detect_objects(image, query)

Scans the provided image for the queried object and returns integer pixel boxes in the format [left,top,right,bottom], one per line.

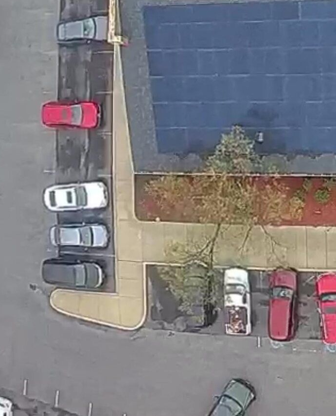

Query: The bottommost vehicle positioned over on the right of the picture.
[208,373,255,416]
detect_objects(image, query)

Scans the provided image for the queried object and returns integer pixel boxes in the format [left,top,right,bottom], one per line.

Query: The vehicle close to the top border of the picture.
[55,14,112,43]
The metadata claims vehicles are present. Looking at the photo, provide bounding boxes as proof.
[221,267,255,338]
[55,14,112,43]
[315,272,336,347]
[265,268,301,343]
[208,373,255,416]
[0,396,21,416]
[181,263,215,331]
[39,100,105,130]
[42,181,109,213]
[39,259,108,291]
[48,222,110,252]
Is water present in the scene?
No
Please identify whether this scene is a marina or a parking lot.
parking lot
